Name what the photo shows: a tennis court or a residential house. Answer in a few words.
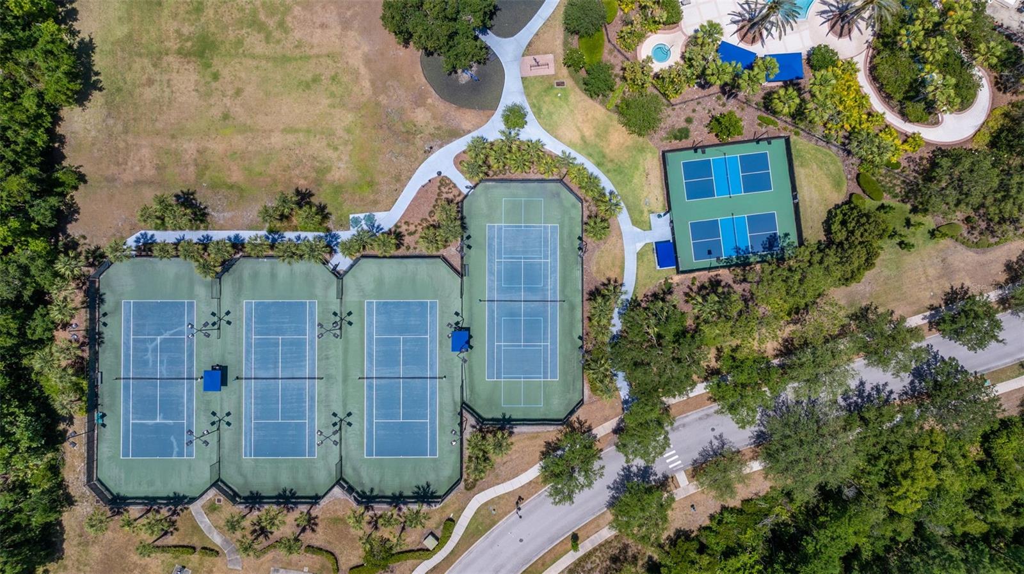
tennis court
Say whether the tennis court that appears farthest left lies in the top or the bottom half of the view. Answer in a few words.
bottom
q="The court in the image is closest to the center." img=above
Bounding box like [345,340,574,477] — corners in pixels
[462,181,583,421]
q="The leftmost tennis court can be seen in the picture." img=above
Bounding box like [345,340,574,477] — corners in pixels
[98,258,220,498]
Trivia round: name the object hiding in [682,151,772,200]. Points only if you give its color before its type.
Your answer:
blue sports court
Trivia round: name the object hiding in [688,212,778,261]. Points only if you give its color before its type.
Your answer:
blue sports court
